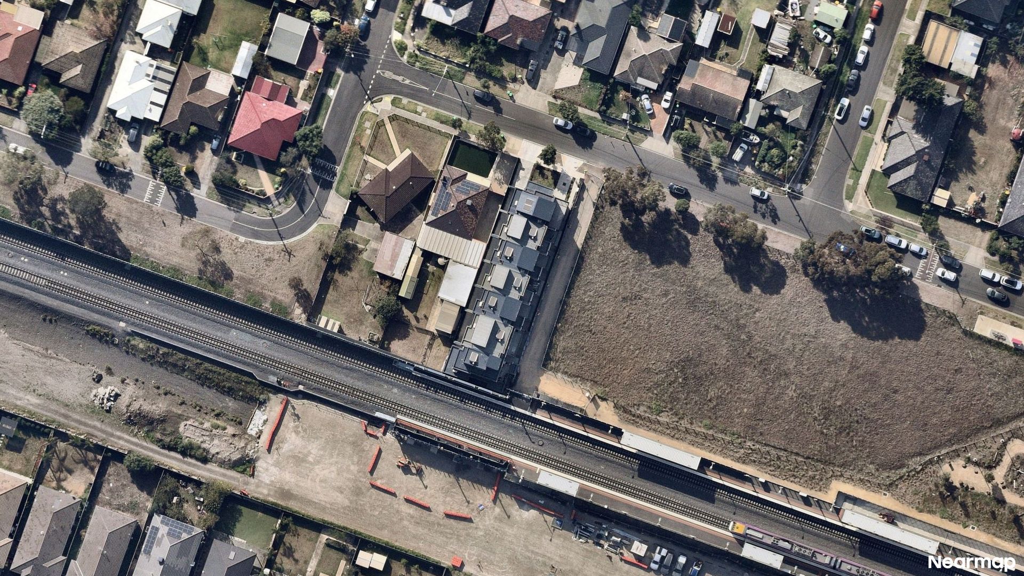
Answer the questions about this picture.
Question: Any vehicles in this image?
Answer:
Yes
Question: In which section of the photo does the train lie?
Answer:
bottom right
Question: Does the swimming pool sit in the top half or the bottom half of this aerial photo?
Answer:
top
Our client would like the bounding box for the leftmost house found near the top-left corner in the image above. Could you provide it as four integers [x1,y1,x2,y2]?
[0,10,44,86]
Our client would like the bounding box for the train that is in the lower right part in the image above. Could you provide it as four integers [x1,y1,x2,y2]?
[729,519,894,576]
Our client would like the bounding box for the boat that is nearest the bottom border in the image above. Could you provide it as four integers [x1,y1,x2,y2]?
[739,130,763,142]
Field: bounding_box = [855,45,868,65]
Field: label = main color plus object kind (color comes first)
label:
white vehicle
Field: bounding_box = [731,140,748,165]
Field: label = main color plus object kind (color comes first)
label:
white car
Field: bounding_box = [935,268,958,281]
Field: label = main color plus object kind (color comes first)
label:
white vehicle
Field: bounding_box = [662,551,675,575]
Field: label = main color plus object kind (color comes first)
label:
gray vehicle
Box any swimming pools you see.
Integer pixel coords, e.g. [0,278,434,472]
[446,139,500,179]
